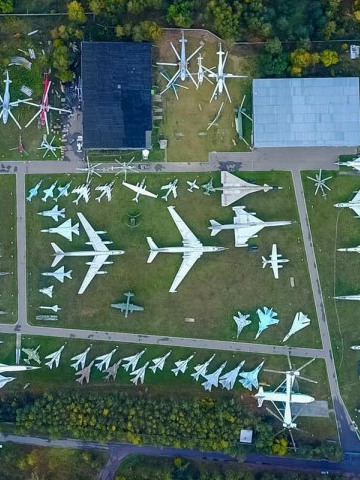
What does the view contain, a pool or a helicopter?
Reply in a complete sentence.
Visible in the photo is a helicopter.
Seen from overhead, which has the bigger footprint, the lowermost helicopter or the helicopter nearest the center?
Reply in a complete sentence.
The helicopter nearest the center is smaller than the lowermost helicopter.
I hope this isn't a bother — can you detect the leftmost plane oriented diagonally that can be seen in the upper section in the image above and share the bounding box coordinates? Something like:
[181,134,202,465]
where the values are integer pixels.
[25,181,43,203]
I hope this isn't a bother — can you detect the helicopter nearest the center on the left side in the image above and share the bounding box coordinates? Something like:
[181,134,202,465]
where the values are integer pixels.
[110,158,139,181]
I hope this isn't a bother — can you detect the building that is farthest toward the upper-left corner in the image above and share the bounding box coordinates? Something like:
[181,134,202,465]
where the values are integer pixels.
[81,42,152,150]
